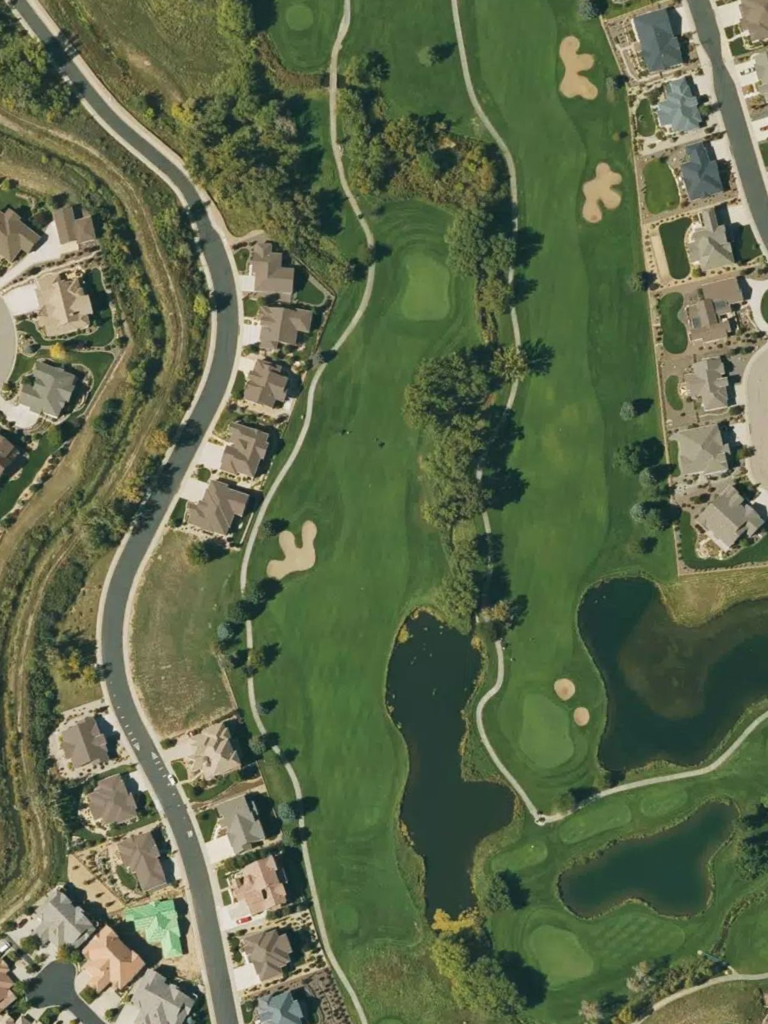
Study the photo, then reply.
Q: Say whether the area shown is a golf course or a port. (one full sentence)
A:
What you see here is a golf course.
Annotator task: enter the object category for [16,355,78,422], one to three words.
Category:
house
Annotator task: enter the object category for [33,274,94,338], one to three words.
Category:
house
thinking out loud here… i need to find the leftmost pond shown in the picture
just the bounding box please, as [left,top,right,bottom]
[385,611,514,921]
